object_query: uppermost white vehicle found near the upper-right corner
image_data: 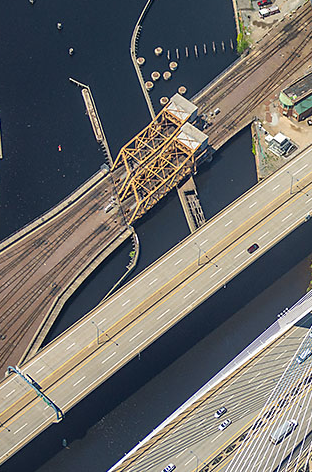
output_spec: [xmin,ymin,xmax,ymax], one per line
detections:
[260,4,285,18]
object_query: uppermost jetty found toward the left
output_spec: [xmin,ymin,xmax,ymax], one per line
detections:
[81,88,103,142]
